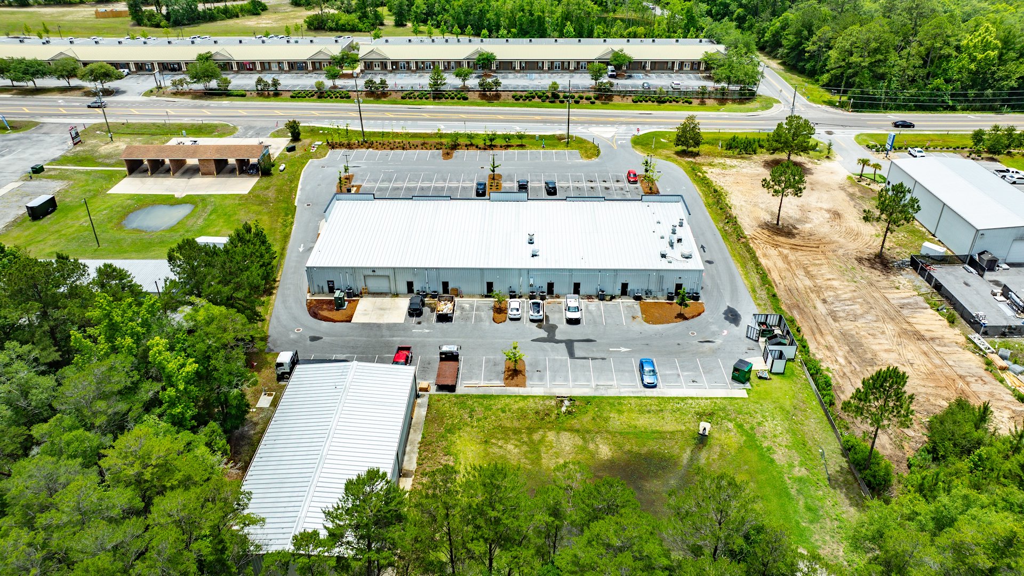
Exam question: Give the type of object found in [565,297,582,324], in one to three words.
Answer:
vehicle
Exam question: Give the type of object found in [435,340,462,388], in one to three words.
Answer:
truck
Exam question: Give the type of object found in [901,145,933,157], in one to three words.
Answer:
vehicle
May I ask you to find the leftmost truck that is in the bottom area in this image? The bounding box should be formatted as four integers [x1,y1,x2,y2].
[275,350,317,380]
